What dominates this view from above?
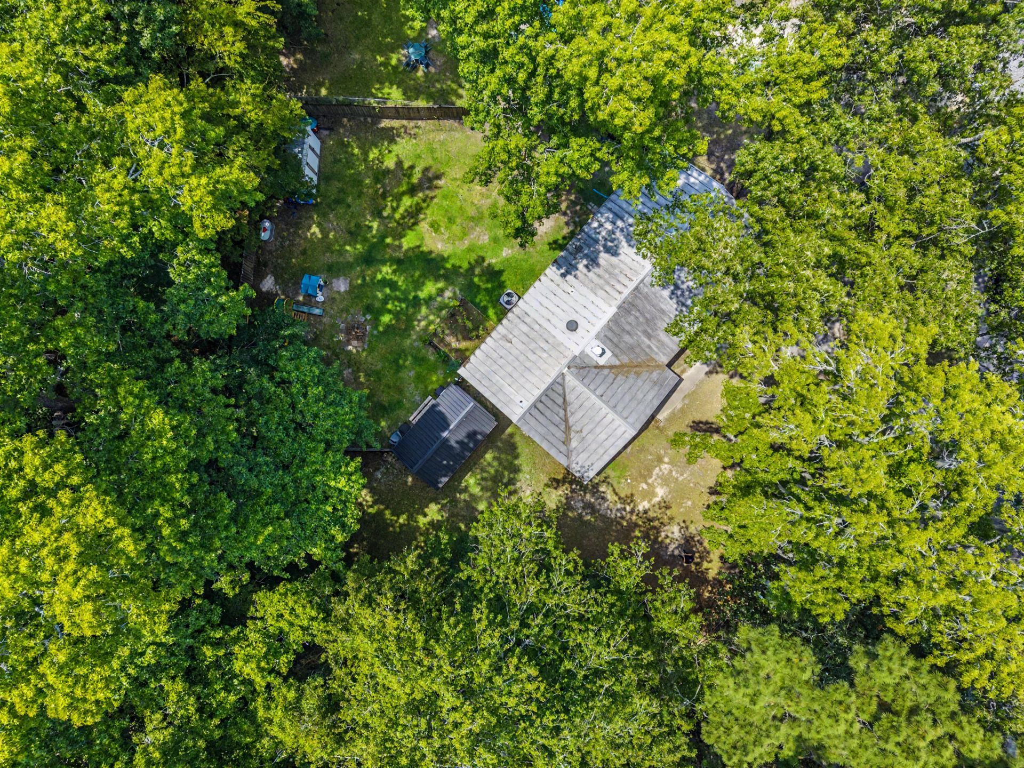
trees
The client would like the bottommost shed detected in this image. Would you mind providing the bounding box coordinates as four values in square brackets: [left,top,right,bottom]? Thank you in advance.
[392,381,499,491]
